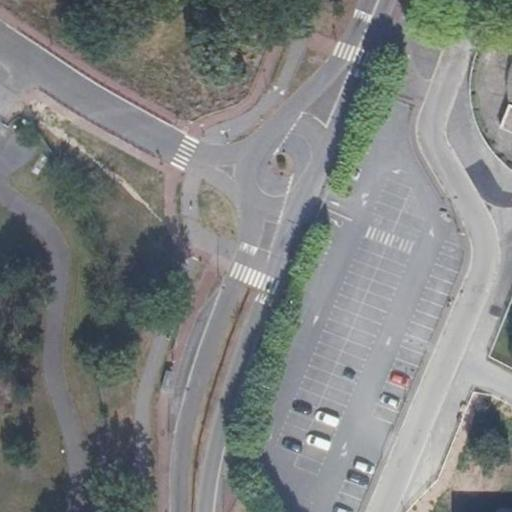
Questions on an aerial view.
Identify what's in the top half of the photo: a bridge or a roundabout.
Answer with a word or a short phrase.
roundabout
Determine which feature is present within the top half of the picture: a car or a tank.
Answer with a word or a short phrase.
car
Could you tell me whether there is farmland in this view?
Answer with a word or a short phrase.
No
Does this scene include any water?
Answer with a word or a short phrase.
No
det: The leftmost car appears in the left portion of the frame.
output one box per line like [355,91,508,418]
[31,155,47,174]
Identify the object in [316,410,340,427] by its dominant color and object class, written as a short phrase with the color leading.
white car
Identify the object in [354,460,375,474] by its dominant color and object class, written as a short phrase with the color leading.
white car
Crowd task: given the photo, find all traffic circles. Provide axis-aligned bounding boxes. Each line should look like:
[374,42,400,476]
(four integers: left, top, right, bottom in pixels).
[256,130,312,196]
